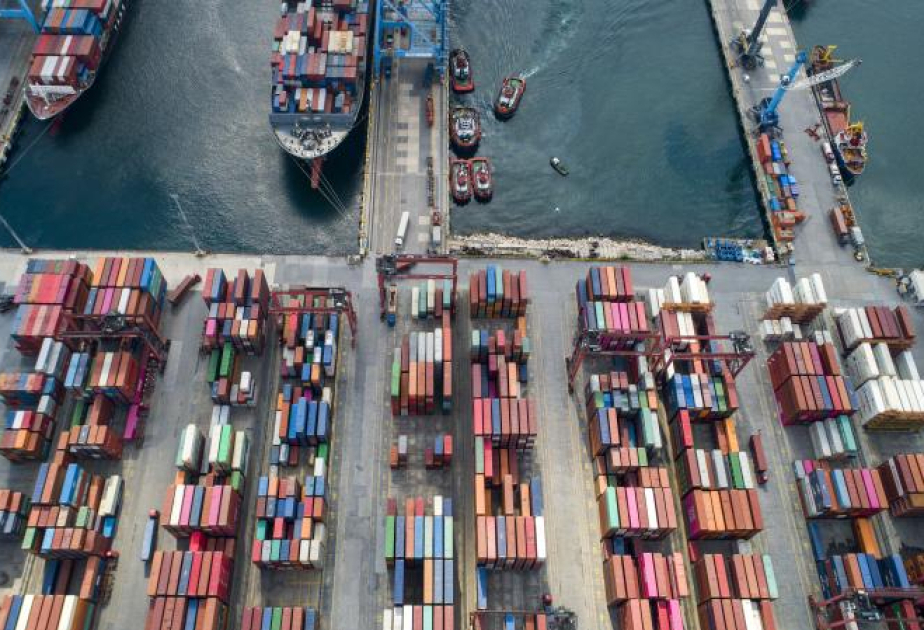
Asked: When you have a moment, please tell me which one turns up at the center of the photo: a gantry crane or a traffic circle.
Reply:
gantry crane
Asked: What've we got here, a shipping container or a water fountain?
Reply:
shipping container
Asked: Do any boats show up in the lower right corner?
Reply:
No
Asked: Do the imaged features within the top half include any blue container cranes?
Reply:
Yes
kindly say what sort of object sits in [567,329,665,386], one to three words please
container crane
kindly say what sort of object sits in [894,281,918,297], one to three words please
work vehicle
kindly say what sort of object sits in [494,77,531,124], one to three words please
boat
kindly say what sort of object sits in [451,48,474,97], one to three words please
boat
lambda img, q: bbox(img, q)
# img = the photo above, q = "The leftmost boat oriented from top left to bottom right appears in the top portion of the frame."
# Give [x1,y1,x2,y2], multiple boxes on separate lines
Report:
[553,156,570,174]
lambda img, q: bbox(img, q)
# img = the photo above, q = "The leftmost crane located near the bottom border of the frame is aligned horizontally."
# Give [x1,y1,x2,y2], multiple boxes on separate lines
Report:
[469,602,580,630]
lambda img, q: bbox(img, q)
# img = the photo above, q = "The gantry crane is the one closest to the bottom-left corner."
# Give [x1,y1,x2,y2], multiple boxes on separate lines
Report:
[49,310,172,367]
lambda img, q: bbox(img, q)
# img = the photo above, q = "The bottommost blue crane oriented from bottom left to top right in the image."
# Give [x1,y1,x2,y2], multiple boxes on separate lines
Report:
[743,53,863,134]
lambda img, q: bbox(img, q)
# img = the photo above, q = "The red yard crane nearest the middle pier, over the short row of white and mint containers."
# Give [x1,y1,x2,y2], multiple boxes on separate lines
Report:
[375,253,458,311]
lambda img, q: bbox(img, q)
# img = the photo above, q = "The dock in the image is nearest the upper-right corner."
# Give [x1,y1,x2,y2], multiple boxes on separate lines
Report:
[707,0,869,261]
